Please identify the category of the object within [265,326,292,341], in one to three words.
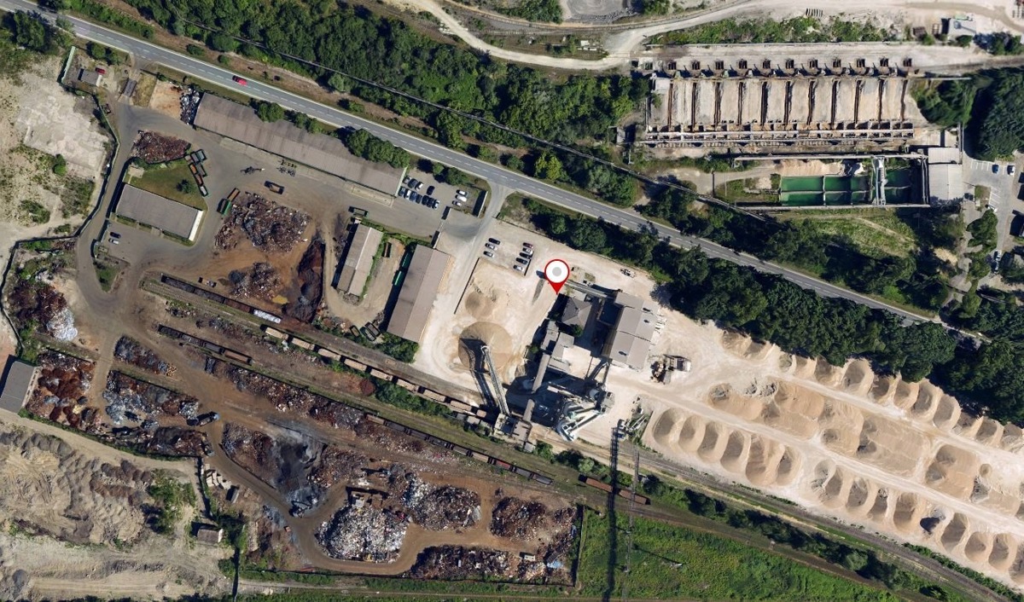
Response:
rail car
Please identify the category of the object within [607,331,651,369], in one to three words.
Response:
building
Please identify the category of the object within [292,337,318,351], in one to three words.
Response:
rail car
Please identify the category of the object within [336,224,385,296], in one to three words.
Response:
shed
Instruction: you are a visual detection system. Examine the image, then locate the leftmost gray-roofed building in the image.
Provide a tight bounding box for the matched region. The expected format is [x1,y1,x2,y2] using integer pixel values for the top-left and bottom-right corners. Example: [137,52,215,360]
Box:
[0,359,41,414]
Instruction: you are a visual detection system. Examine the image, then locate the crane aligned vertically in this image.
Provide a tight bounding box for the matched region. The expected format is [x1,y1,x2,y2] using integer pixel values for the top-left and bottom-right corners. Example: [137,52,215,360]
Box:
[872,157,888,206]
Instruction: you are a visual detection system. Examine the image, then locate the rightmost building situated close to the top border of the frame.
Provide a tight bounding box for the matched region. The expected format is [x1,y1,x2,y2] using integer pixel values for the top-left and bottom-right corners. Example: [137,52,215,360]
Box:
[943,13,976,36]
